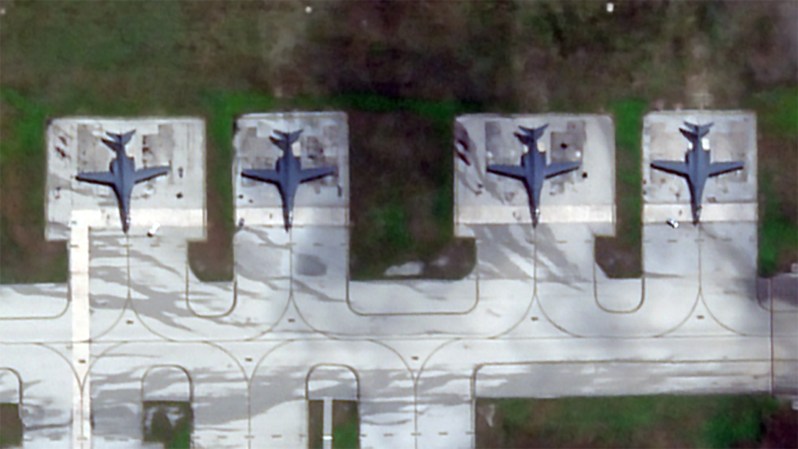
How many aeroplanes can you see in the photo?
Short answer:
4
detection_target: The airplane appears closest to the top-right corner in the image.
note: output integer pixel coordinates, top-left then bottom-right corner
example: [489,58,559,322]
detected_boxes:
[651,122,745,222]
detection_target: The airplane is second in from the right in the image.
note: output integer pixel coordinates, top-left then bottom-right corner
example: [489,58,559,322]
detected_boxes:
[488,126,581,226]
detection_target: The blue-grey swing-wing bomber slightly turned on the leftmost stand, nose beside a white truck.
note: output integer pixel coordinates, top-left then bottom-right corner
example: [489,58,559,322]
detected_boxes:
[76,130,170,231]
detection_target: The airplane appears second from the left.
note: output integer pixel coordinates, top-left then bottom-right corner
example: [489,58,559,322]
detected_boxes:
[242,129,335,228]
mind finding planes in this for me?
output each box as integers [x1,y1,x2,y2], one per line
[488,126,581,226]
[242,129,335,228]
[76,130,170,231]
[651,122,745,222]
